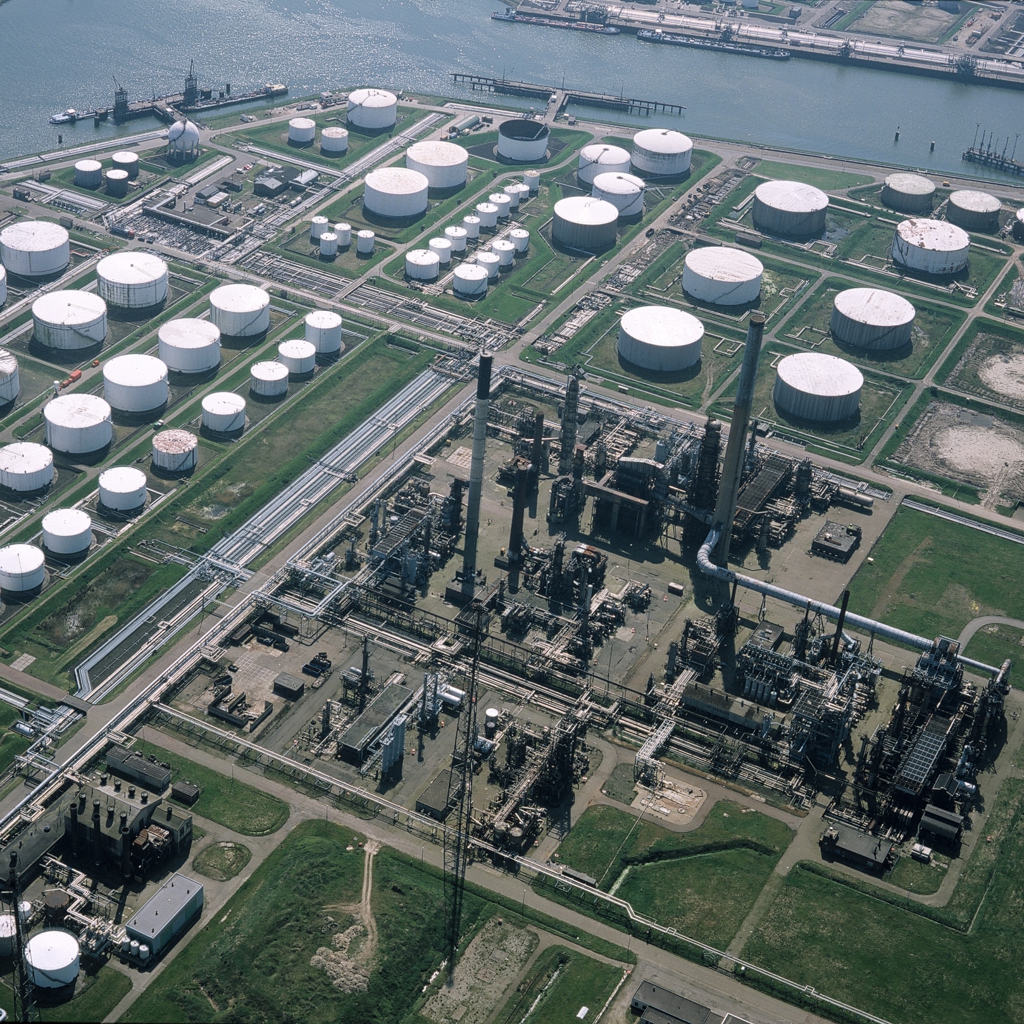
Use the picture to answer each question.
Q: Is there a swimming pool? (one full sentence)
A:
No, there isn't any swimming pool down there.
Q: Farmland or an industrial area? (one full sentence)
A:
What you see here is an industrial area.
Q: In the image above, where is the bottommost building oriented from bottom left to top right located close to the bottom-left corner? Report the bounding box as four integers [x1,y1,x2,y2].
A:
[124,871,205,956]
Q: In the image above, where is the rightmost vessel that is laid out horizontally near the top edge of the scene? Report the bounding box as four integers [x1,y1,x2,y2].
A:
[636,25,790,58]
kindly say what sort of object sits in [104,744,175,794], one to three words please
building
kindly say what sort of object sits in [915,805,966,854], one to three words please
shed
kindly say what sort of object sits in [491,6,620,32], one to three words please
ship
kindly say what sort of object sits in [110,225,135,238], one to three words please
vehicle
